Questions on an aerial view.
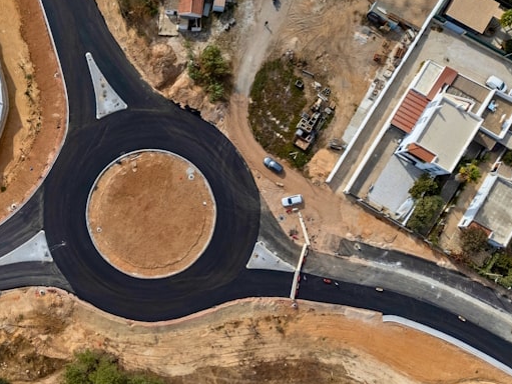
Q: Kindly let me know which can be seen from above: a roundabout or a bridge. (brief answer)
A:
roundabout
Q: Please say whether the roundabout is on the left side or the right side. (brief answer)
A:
left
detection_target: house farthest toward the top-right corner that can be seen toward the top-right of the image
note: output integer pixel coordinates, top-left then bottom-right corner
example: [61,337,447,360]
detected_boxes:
[440,0,512,36]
